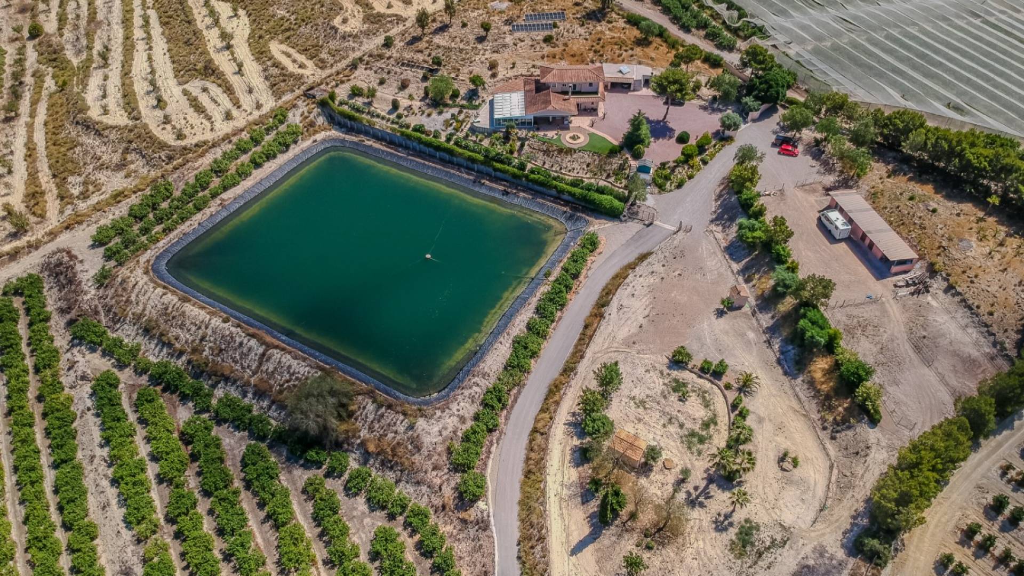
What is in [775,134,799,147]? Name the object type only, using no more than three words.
vehicle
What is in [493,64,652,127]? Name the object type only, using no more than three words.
house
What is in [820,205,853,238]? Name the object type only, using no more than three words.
camper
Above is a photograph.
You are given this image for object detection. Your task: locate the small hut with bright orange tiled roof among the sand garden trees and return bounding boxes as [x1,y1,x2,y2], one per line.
[610,434,648,470]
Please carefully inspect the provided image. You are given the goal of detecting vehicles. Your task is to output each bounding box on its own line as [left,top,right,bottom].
[775,134,799,147]
[820,205,853,238]
[620,83,631,89]
[665,98,685,107]
[778,145,799,156]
